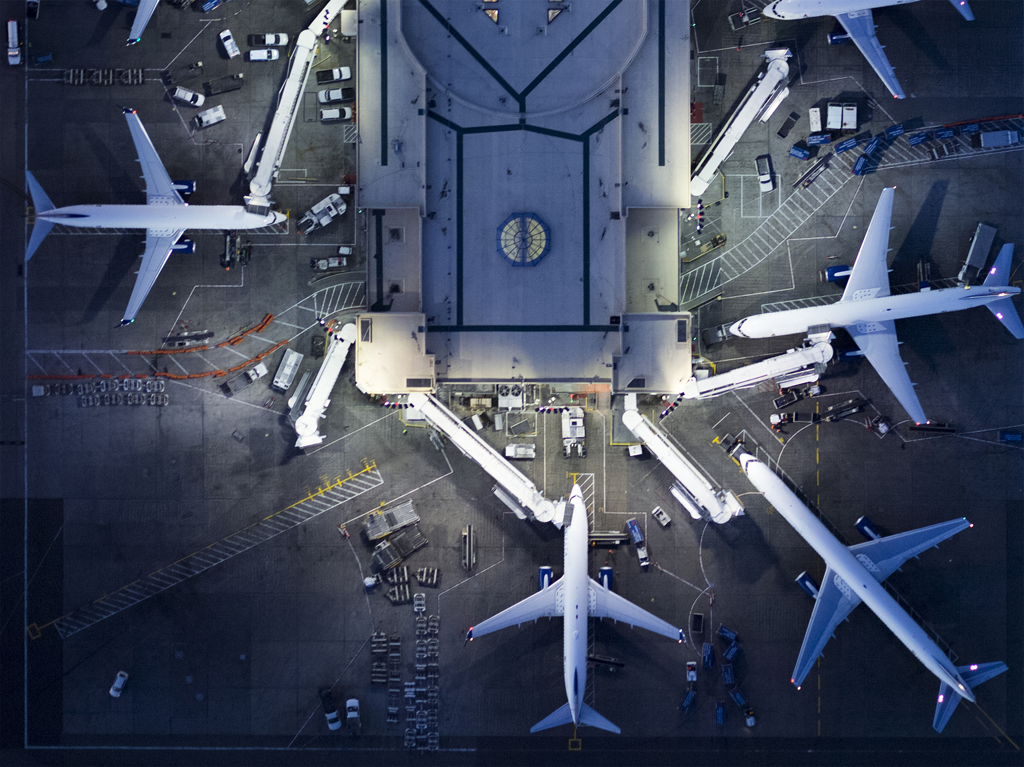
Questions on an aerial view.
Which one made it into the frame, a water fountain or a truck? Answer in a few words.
truck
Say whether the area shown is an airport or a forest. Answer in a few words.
airport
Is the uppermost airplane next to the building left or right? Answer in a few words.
right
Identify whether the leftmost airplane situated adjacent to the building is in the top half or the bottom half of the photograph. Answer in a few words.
top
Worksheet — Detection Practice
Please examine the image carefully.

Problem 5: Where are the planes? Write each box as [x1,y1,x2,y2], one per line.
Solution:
[25,106,287,326]
[466,485,687,734]
[124,0,161,44]
[729,186,1024,426]
[763,0,911,97]
[740,456,1010,734]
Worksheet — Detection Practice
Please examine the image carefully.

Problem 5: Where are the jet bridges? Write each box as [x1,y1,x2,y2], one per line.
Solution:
[623,394,742,529]
[684,331,839,404]
[241,0,349,211]
[410,393,571,530]
[281,325,356,443]
[691,50,796,192]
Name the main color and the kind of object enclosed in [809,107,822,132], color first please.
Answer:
white vehicle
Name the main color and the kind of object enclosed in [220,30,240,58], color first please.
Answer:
white vehicle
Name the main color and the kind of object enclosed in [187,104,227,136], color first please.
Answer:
white truck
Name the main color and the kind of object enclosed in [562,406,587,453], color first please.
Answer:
white work vehicle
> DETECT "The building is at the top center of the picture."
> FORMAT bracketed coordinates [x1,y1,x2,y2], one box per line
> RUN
[342,0,692,394]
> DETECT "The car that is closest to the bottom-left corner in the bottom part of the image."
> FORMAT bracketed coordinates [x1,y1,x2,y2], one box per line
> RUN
[110,671,127,698]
